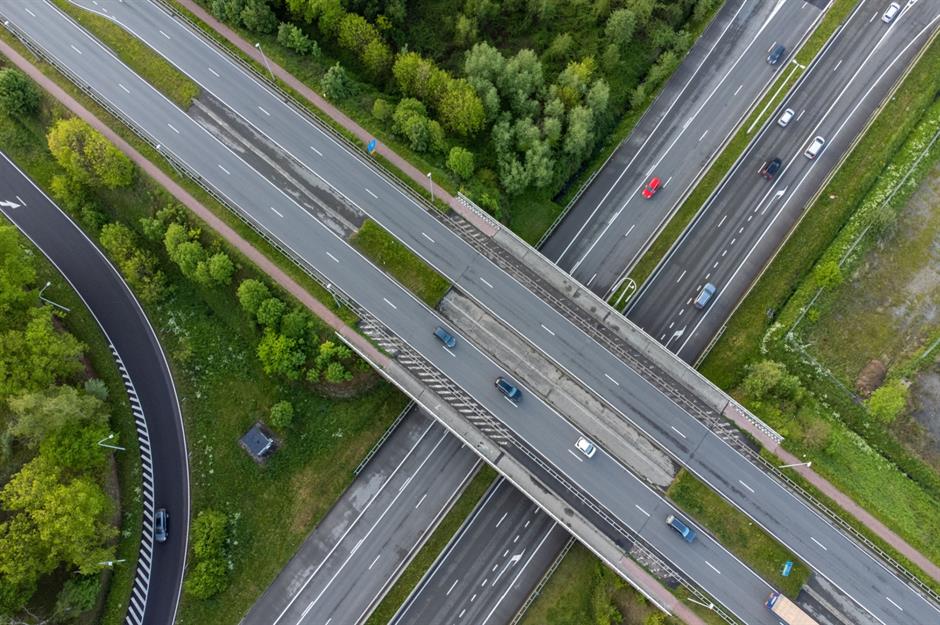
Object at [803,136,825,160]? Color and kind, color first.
white car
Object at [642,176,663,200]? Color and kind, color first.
red car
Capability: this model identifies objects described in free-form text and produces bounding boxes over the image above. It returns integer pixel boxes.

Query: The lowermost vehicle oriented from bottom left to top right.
[692,283,717,310]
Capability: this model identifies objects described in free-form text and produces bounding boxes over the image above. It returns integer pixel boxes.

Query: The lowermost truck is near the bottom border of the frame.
[758,589,822,625]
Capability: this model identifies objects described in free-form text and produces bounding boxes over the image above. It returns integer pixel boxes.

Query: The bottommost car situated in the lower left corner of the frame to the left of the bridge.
[151,508,172,542]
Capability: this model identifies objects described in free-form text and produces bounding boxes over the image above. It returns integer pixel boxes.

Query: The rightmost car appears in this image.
[880,3,900,24]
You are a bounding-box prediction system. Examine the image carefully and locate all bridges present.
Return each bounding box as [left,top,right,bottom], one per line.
[334,192,785,616]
